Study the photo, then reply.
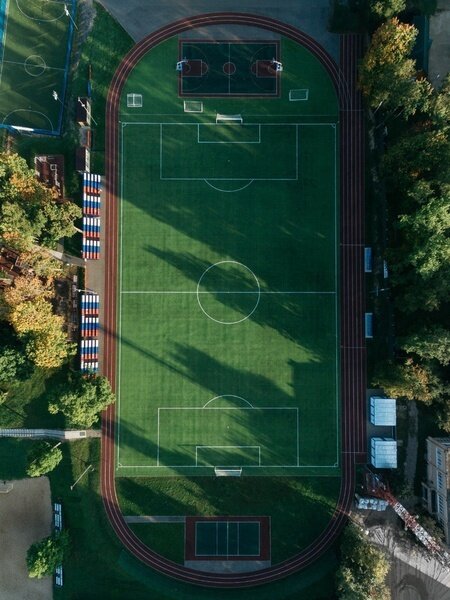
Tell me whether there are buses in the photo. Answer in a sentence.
No, there appears to be no bus in this shot.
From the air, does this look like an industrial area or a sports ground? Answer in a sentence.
The picture captures a sports ground.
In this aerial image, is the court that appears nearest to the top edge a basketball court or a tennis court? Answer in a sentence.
In the photo, the court that appears nearest to the top edge shows up as a basketball court.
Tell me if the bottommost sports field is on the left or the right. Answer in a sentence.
The bottommost sports field is on the left side of the image.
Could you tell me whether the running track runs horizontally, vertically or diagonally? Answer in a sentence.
The running track is laid out vertically.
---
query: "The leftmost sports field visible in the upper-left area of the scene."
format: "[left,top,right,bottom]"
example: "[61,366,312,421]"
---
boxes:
[0,0,79,134]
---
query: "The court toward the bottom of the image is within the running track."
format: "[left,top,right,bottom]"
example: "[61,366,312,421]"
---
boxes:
[185,516,271,561]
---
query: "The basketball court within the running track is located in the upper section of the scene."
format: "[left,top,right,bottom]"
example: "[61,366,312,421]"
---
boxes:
[179,40,279,97]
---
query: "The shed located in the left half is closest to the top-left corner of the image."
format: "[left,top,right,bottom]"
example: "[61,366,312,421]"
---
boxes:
[75,94,91,127]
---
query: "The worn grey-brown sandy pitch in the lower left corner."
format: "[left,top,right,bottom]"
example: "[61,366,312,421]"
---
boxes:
[0,475,53,600]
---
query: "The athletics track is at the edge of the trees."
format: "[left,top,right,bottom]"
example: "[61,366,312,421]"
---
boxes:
[101,12,366,587]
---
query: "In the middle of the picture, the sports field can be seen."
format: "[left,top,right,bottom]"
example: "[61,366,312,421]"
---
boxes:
[114,34,342,476]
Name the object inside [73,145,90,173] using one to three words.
shed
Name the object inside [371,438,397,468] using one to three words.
shed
